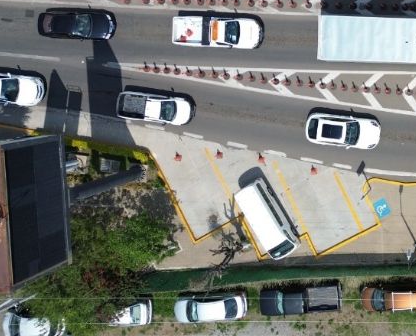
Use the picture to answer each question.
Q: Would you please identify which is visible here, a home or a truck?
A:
truck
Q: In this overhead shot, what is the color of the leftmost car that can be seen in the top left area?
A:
white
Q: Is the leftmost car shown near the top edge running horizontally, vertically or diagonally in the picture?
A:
horizontally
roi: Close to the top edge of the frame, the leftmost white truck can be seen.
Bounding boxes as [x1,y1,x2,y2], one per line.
[171,14,265,52]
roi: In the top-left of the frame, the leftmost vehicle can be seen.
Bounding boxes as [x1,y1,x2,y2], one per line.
[0,70,48,108]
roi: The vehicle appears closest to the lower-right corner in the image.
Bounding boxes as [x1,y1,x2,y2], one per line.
[363,283,416,320]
